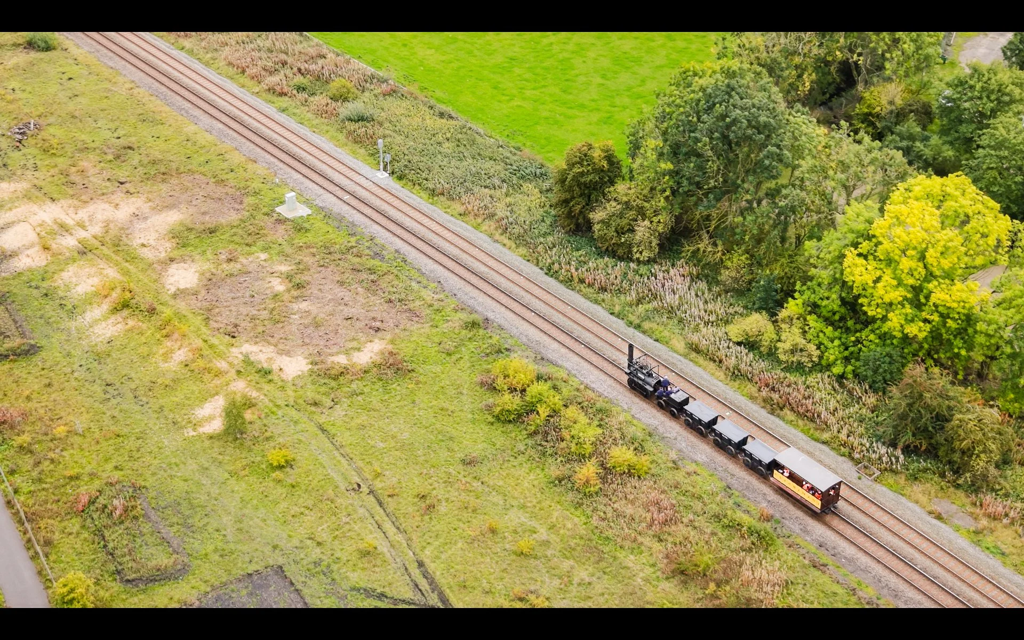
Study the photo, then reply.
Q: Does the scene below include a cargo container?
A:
No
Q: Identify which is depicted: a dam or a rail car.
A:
rail car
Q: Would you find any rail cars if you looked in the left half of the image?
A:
No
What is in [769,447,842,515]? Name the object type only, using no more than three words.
rail car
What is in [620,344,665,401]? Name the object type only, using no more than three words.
rail car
